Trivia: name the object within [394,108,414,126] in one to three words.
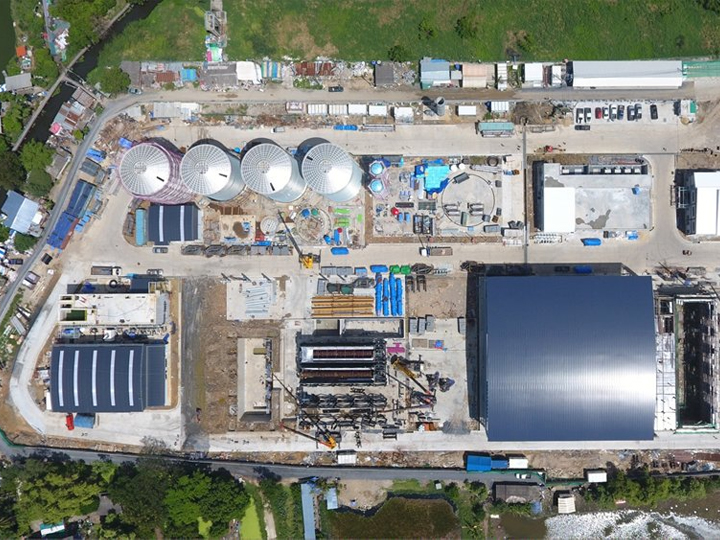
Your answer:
building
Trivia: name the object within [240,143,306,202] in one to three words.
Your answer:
silo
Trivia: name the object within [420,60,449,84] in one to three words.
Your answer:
house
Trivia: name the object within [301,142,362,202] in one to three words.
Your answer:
silo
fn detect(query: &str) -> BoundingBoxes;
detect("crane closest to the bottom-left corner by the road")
[274,371,336,454]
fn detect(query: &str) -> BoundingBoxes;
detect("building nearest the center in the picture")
[296,333,390,386]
